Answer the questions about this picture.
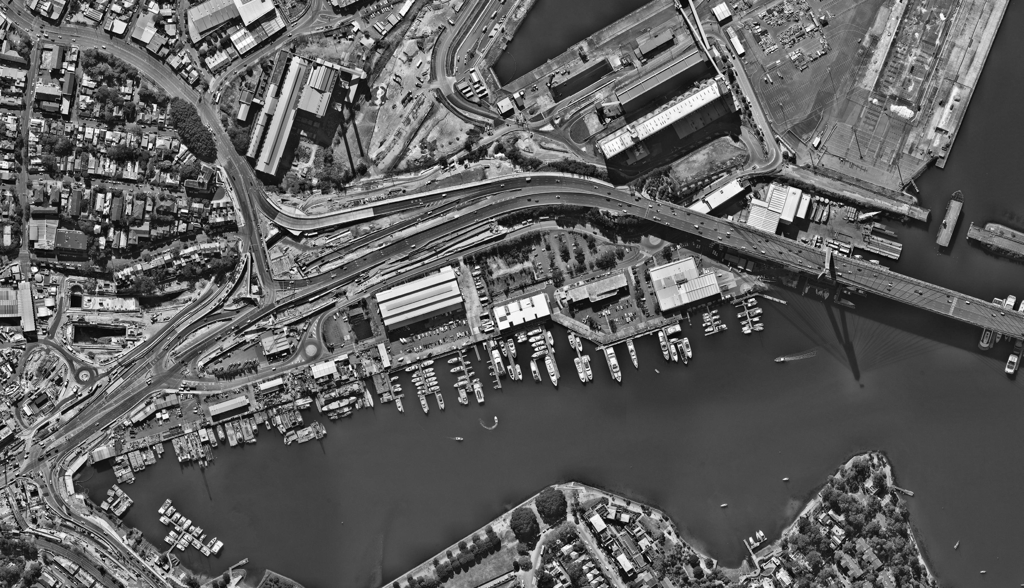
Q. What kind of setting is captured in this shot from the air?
port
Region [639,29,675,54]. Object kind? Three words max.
shed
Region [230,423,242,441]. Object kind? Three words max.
boat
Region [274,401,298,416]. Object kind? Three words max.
ship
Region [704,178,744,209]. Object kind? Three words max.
building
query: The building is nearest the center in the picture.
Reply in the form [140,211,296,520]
[493,292,551,330]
